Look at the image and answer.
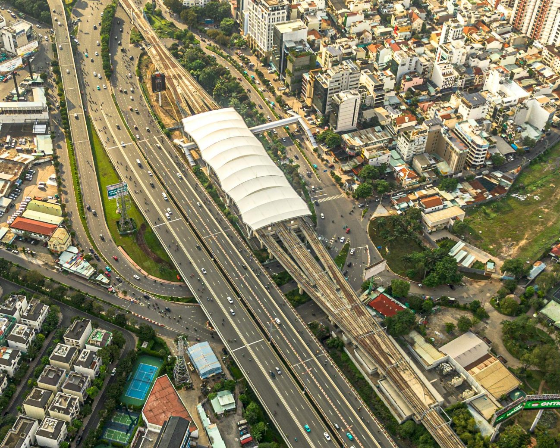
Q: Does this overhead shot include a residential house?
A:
Yes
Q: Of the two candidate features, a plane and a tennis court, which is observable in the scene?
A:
tennis court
